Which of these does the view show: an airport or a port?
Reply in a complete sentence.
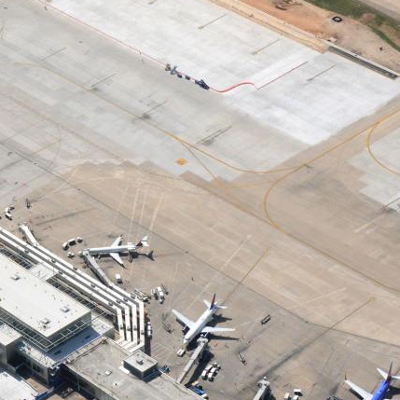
The picture captures an airport.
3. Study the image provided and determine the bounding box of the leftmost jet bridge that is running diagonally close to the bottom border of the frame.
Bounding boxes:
[175,341,205,385]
